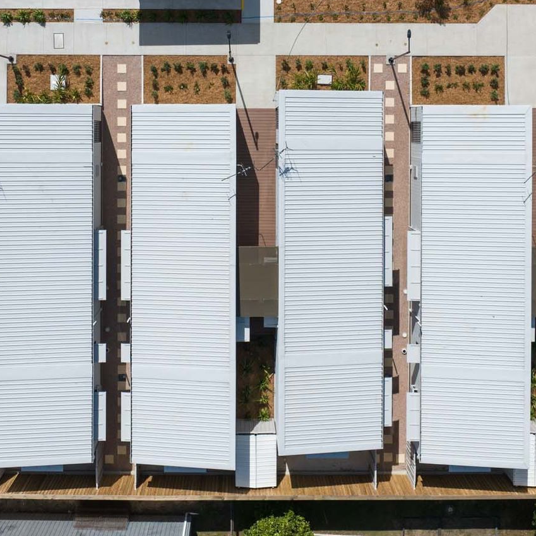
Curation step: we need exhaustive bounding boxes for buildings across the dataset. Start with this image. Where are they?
[0,104,105,472]
[121,104,250,473]
[264,90,392,459]
[407,105,534,473]
[0,511,190,536]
